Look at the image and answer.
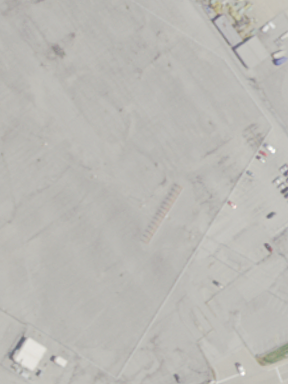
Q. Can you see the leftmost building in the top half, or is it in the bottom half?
bottom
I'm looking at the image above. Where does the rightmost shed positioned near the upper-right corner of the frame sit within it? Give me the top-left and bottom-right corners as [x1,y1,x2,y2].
[236,36,270,68]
